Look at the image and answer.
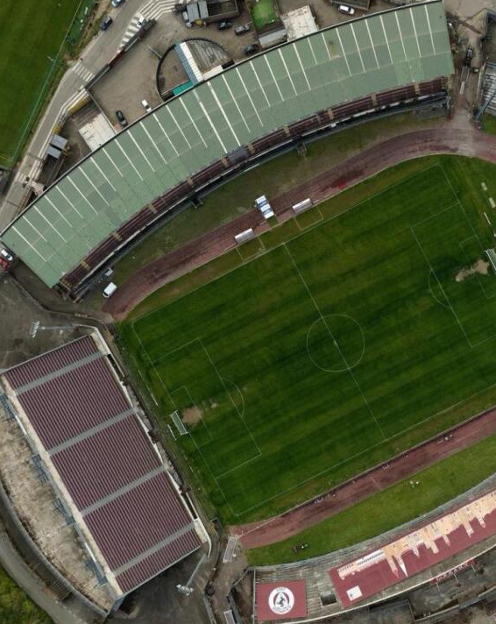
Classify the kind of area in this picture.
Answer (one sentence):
The area seen from above is a sports ground.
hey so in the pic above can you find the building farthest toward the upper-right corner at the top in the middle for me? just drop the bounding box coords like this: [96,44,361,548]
[281,6,317,40]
